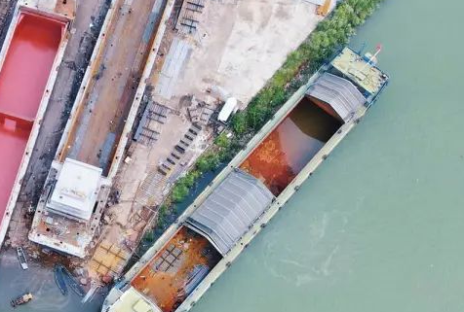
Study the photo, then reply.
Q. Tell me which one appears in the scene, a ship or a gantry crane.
ship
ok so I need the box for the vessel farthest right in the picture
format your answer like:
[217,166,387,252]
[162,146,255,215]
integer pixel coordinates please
[104,36,396,312]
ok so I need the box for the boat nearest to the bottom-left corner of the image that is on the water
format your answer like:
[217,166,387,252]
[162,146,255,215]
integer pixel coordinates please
[6,292,36,310]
